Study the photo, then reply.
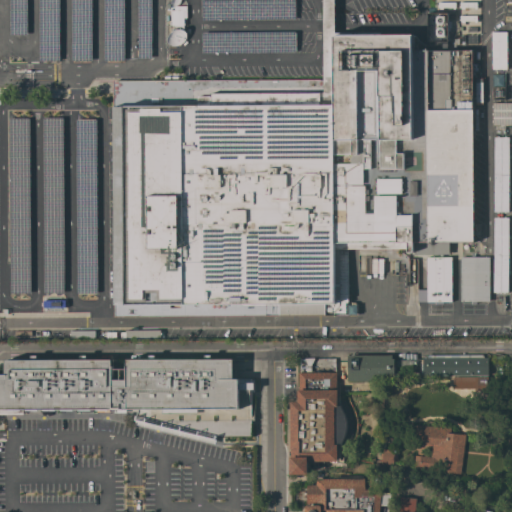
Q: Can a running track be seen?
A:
No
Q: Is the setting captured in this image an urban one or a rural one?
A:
urban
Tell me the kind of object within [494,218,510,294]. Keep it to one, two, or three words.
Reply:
building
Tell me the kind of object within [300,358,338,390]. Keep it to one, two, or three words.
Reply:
house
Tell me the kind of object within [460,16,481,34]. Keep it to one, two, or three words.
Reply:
shed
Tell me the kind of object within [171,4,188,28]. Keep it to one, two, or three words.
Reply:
tent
